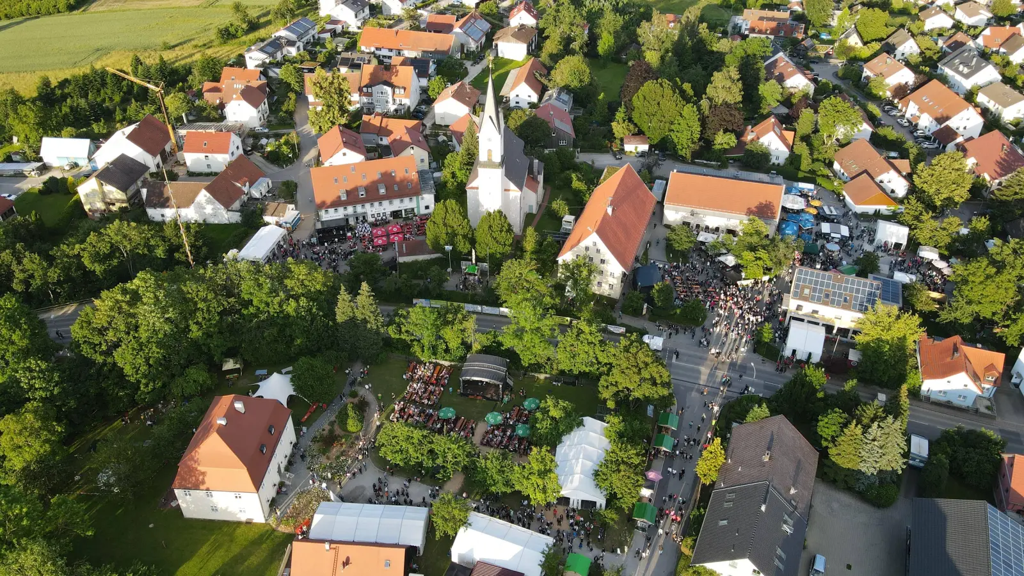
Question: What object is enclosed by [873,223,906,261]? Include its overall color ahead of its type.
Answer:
white tent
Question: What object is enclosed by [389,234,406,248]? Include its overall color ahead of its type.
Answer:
red umbrella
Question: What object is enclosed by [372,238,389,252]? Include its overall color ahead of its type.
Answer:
red umbrella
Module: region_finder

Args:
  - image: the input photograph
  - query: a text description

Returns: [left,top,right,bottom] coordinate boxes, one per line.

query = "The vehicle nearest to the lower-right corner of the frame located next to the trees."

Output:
[908,430,935,471]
